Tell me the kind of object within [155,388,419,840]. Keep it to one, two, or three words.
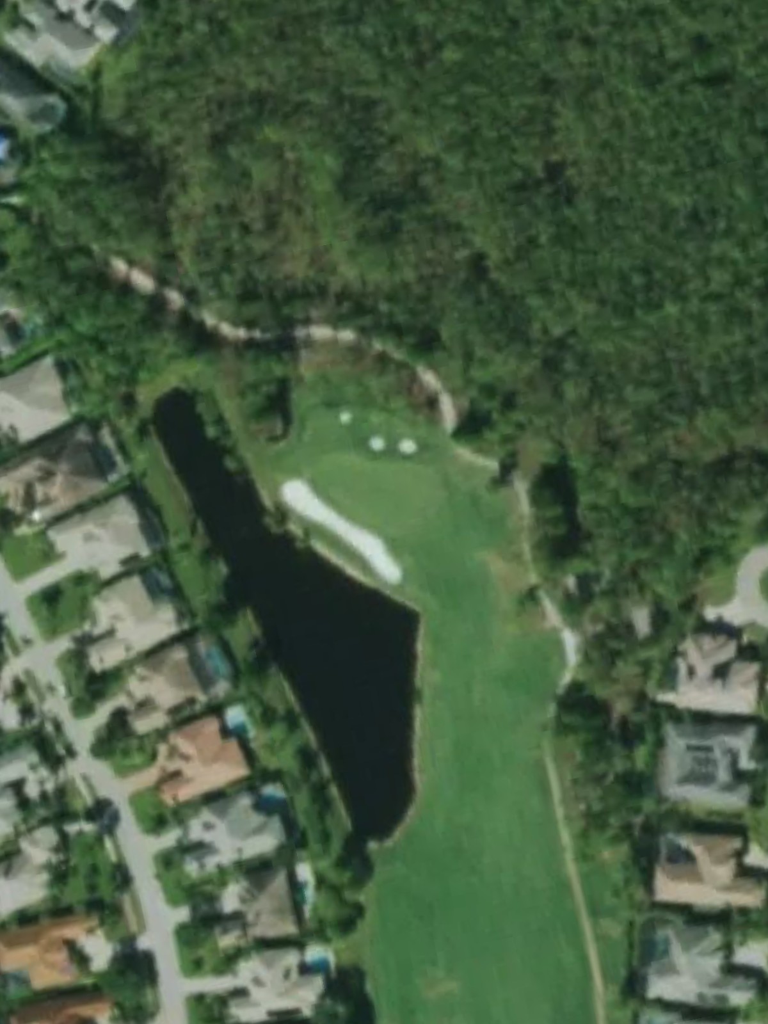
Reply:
pond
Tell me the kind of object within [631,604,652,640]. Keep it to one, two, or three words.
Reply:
shed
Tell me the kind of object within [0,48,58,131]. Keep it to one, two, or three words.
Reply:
house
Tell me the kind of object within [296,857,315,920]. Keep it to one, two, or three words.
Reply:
swimming pool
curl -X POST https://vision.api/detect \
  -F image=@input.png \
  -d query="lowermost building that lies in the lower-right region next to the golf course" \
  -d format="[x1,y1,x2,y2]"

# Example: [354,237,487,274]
[648,928,758,1014]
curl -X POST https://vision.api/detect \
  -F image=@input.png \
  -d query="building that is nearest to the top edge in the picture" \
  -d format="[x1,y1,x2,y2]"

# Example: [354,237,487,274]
[9,0,137,73]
